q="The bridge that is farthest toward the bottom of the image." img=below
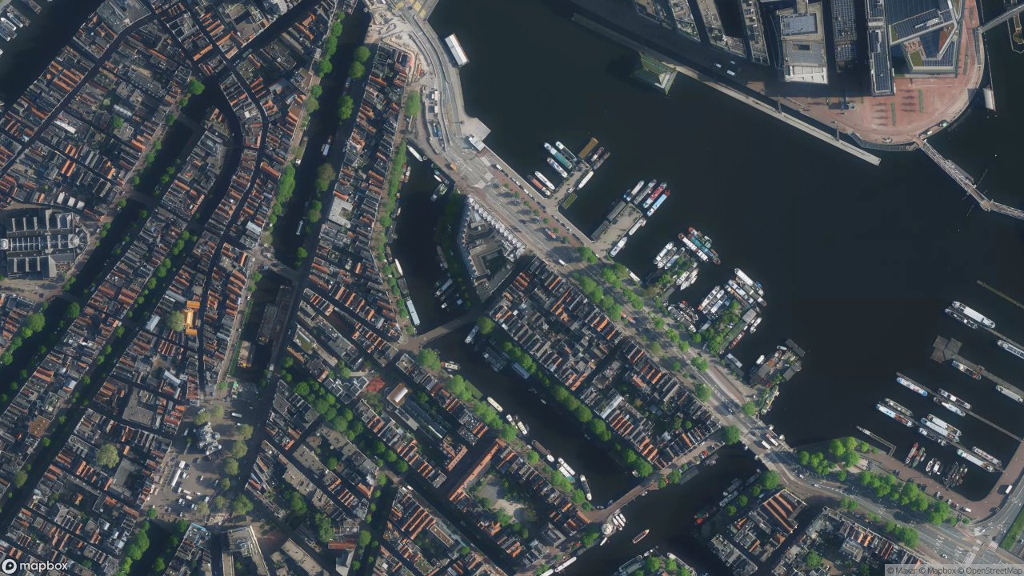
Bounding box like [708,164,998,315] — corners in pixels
[585,478,662,527]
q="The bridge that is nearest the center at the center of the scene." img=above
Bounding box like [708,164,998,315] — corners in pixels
[412,308,486,349]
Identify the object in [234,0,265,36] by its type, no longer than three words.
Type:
building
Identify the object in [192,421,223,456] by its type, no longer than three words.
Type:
house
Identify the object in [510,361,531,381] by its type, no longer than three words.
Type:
boat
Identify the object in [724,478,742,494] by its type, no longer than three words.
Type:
boat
